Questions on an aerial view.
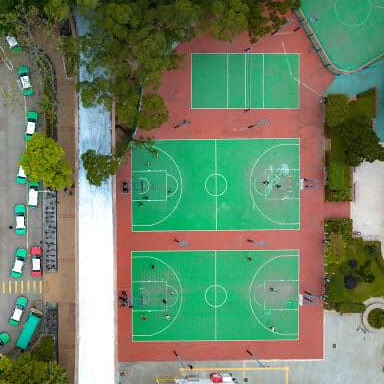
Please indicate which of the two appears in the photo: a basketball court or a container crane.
basketball court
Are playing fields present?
Yes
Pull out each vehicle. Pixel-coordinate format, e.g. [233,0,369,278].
[0,27,23,55]
[16,155,28,184]
[27,180,40,209]
[15,305,45,350]
[9,296,27,327]
[0,331,10,347]
[25,111,38,141]
[18,66,33,96]
[30,246,42,275]
[14,204,26,234]
[11,248,26,278]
